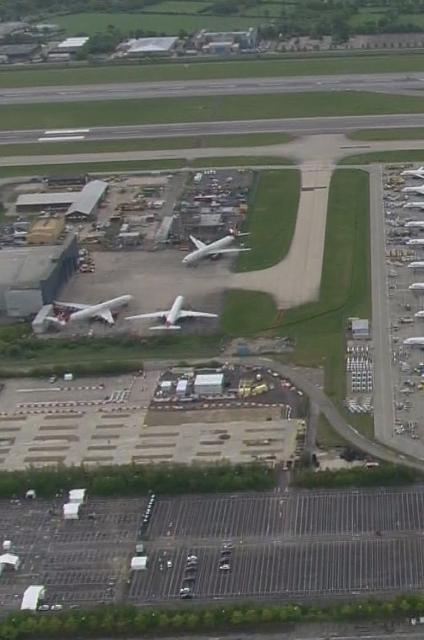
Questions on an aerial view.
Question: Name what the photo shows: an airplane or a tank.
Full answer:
Visible in the photo is an airplane.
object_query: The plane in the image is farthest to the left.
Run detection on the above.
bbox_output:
[53,296,132,325]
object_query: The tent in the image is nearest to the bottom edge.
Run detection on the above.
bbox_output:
[17,581,43,605]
